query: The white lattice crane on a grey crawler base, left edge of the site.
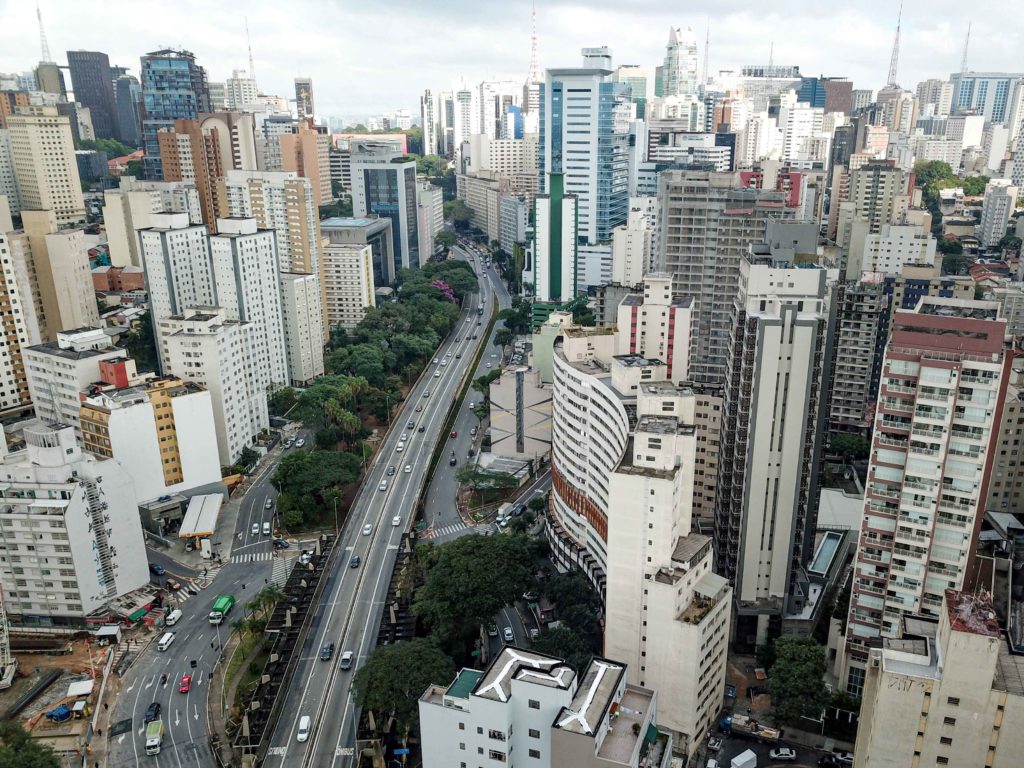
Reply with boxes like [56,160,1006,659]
[0,605,33,703]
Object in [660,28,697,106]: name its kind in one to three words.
building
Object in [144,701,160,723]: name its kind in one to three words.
car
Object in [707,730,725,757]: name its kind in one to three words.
vehicle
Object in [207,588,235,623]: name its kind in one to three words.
truck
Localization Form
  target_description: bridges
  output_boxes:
[253,291,496,768]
